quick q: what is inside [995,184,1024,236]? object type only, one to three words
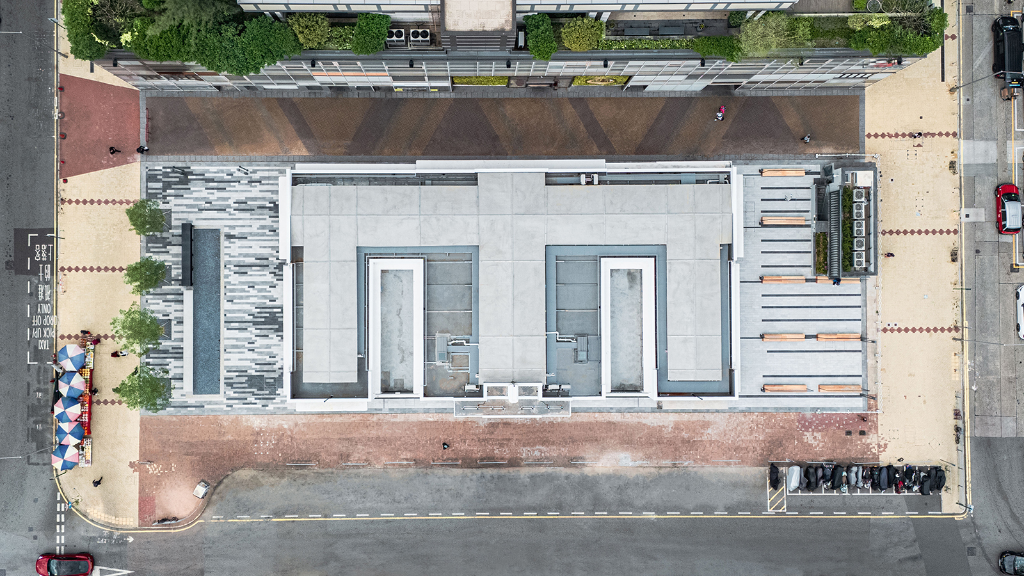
car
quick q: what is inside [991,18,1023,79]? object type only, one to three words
van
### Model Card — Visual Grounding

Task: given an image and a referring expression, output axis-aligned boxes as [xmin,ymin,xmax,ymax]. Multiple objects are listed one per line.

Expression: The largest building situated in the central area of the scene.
[279,160,743,418]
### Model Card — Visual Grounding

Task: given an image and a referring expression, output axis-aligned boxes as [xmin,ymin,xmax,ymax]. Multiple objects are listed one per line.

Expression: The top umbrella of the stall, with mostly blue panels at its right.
[55,344,84,371]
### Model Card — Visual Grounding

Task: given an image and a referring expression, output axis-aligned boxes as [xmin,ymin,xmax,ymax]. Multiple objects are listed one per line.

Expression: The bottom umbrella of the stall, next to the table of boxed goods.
[50,446,79,473]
